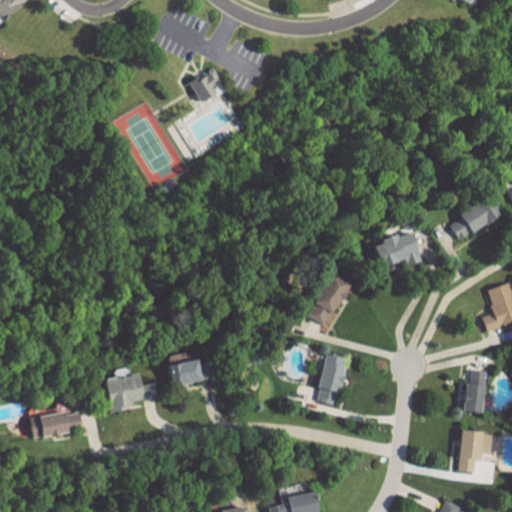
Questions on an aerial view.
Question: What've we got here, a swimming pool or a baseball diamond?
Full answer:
This aerial view contains a swimming pool.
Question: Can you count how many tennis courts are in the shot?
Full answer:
The photo contains exactly 1 tennis court.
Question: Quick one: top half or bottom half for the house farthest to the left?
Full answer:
The bottom half of the photo is where the house farthest to the left is.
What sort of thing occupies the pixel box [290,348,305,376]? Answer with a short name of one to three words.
swimming pool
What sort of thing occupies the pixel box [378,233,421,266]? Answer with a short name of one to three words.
house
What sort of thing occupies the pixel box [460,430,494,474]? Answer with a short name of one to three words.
house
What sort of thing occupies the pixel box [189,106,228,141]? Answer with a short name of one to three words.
swimming pool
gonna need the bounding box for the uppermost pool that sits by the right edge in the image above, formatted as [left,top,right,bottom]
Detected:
[492,376,512,412]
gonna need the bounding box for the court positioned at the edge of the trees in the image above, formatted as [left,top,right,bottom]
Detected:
[114,102,187,188]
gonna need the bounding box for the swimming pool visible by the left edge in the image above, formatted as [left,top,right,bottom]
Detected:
[0,402,24,424]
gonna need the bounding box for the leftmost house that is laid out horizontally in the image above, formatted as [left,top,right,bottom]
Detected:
[30,412,82,442]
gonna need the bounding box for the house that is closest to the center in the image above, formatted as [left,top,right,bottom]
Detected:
[310,277,352,326]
